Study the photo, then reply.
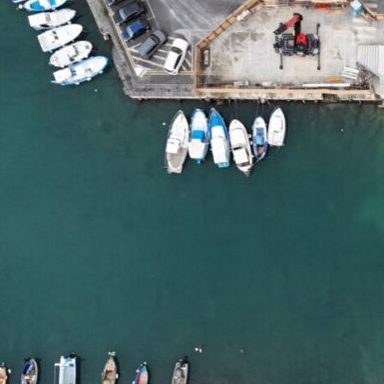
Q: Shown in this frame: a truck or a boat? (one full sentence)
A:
The one in the frame is a boat.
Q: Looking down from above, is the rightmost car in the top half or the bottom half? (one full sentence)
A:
Seen from above, the rightmost car lies in the top half of the view.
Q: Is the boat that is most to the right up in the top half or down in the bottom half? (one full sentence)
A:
It is in the top half that the boat that is most to the right appears.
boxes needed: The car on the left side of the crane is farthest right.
[165,40,190,74]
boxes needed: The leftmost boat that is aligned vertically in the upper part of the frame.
[165,100,190,175]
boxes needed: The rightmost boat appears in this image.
[268,100,288,147]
